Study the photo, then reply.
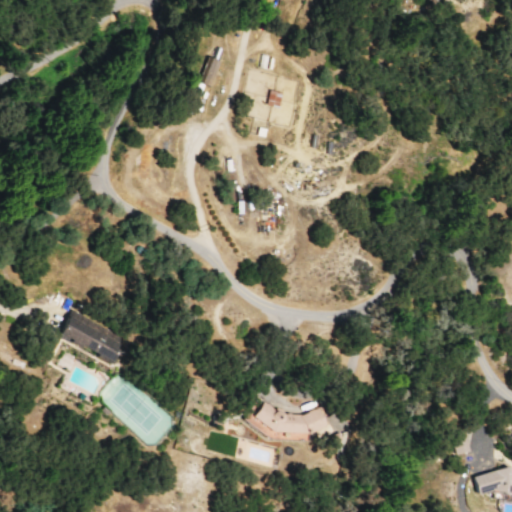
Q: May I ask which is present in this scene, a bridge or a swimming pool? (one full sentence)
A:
This aerial view contains a swimming pool.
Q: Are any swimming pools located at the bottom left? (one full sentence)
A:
Yes, a swimming pool shows up at the bottom left.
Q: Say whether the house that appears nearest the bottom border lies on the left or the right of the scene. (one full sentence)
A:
You can find the house that appears nearest the bottom border on the right side of the picture.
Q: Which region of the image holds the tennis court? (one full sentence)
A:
Look in the bottom left portion of the view to spot the tennis court.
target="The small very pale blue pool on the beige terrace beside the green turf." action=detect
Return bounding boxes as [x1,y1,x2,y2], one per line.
[235,438,274,464]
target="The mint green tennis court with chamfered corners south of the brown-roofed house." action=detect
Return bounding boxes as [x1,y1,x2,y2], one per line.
[100,378,173,446]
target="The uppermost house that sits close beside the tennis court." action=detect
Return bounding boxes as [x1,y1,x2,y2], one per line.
[62,311,121,362]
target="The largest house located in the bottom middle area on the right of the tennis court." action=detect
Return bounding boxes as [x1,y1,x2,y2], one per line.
[250,404,334,441]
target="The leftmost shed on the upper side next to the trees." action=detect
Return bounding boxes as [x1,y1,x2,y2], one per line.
[202,58,220,86]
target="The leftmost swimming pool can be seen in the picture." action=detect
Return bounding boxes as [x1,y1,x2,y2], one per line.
[58,354,109,396]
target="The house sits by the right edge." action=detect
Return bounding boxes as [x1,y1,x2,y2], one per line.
[473,466,512,495]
